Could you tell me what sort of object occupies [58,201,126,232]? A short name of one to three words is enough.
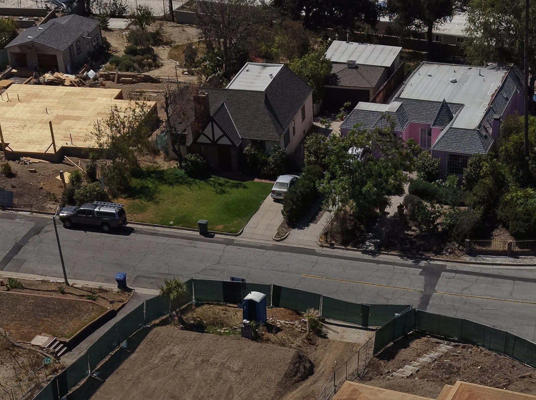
truck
